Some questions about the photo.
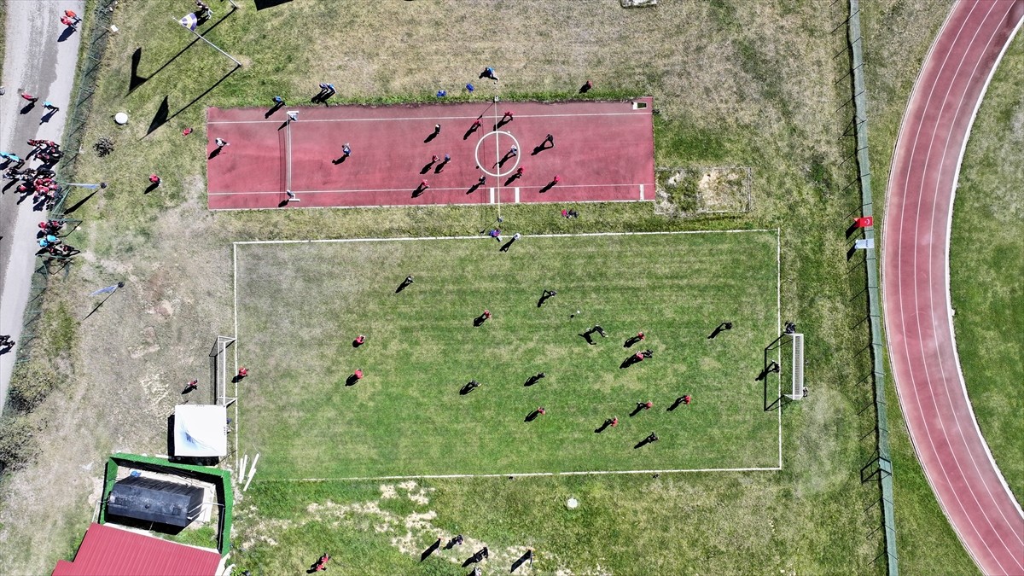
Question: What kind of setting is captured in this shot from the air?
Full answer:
It's a sports ground.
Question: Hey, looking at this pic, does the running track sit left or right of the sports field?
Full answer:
The sports field has the running track on its right side.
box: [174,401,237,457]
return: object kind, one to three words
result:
tent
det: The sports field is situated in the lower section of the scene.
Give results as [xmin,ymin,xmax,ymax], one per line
[233,228,783,480]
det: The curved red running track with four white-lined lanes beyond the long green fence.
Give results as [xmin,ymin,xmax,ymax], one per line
[879,0,1024,576]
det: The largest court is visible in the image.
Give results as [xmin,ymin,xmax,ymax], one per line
[207,97,655,210]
